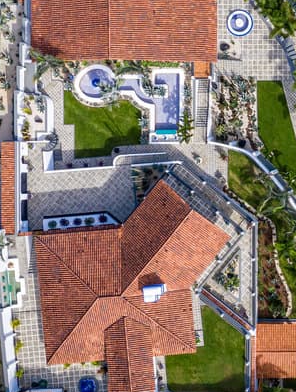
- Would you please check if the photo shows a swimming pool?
Yes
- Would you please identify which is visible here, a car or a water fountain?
water fountain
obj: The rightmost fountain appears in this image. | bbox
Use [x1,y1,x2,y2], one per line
[226,9,254,37]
